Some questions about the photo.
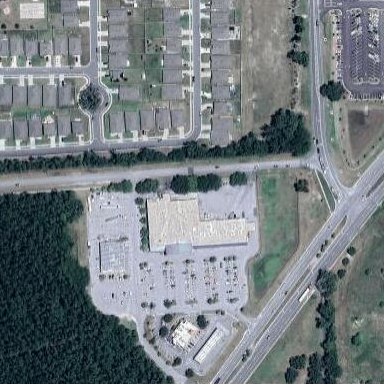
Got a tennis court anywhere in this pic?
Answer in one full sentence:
No, I can't see a single tennis court in this photo.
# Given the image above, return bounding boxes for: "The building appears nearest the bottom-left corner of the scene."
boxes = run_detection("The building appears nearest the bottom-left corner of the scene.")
[101,241,126,272]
